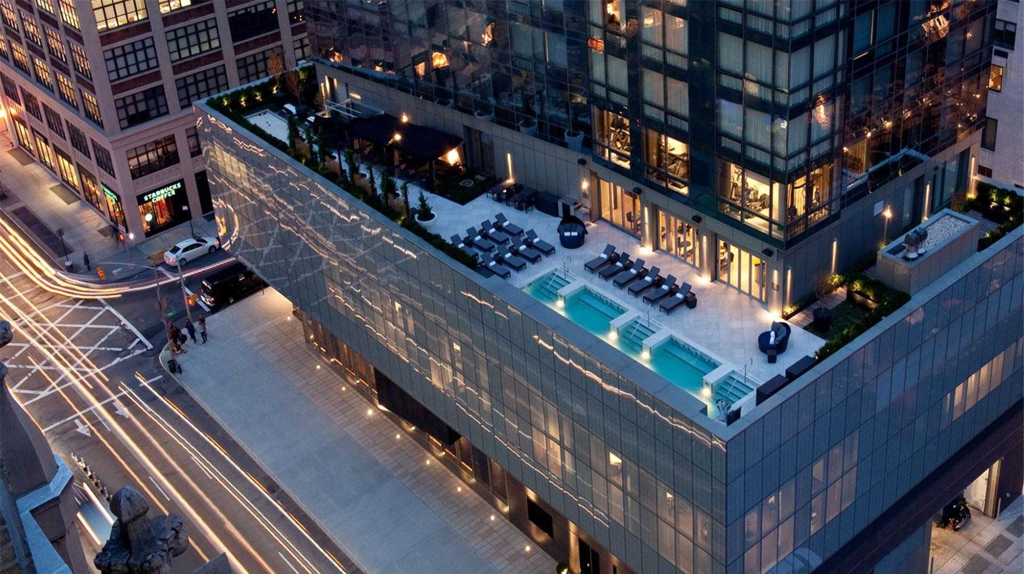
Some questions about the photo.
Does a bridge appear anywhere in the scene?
No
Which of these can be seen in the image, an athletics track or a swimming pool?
swimming pool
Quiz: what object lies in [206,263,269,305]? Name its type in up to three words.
van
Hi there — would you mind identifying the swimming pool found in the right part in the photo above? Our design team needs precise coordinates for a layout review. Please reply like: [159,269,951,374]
[517,263,765,417]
